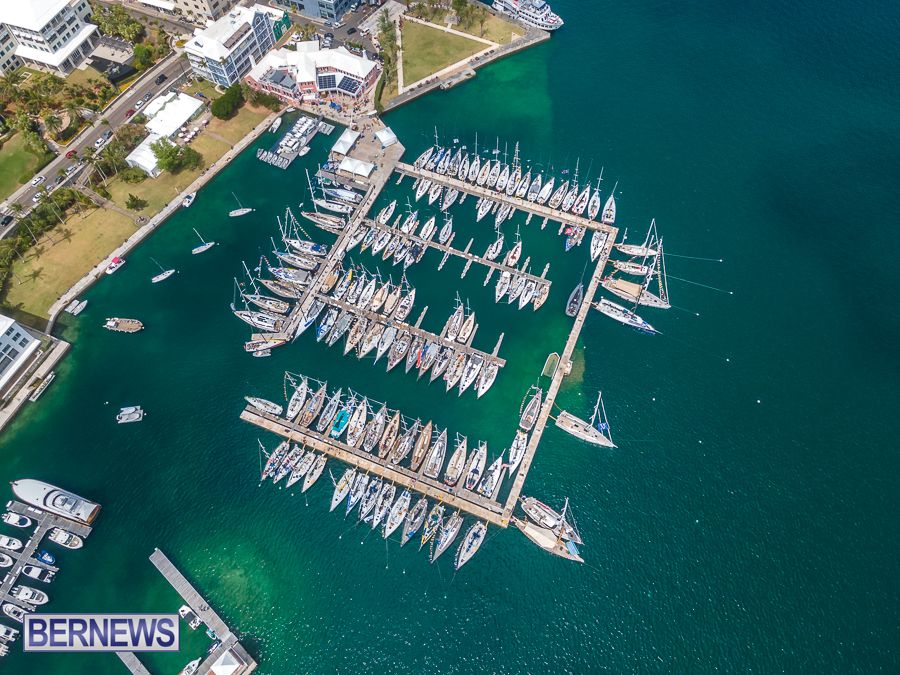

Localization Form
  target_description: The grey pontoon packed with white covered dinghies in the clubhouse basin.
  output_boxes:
[254,115,335,169]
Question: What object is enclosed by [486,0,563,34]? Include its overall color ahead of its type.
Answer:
white ship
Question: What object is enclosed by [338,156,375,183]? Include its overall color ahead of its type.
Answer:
white tent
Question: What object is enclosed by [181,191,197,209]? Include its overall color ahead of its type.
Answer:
white boat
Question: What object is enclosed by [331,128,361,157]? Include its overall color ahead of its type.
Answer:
white tent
